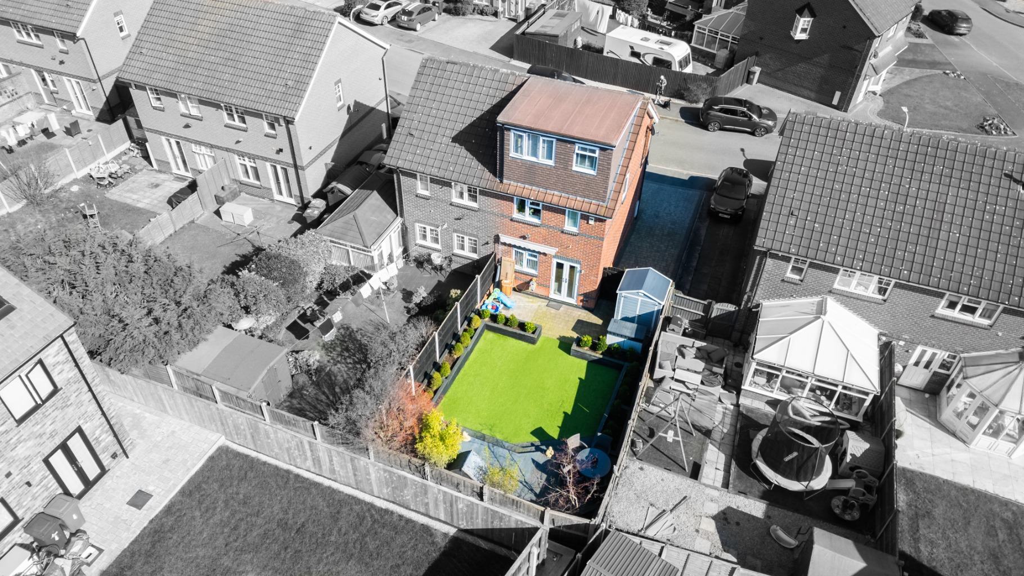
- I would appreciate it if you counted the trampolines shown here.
1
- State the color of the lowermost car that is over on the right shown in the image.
black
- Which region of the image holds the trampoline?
bottom right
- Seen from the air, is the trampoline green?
No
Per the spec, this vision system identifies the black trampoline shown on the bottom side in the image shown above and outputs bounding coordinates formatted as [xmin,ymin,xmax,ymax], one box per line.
[749,404,840,508]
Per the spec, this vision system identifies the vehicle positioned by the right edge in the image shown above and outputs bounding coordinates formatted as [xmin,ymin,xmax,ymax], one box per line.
[929,11,973,39]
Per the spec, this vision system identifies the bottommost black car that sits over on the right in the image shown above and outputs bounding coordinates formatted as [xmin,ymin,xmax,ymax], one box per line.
[708,157,756,215]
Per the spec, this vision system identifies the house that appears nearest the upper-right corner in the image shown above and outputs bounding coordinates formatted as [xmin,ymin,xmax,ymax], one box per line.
[738,0,903,109]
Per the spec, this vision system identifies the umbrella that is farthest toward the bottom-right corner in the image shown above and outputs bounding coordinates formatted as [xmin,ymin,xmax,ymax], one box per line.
[638,497,688,540]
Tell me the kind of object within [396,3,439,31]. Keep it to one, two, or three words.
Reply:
car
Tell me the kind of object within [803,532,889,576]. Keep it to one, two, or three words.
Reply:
shed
